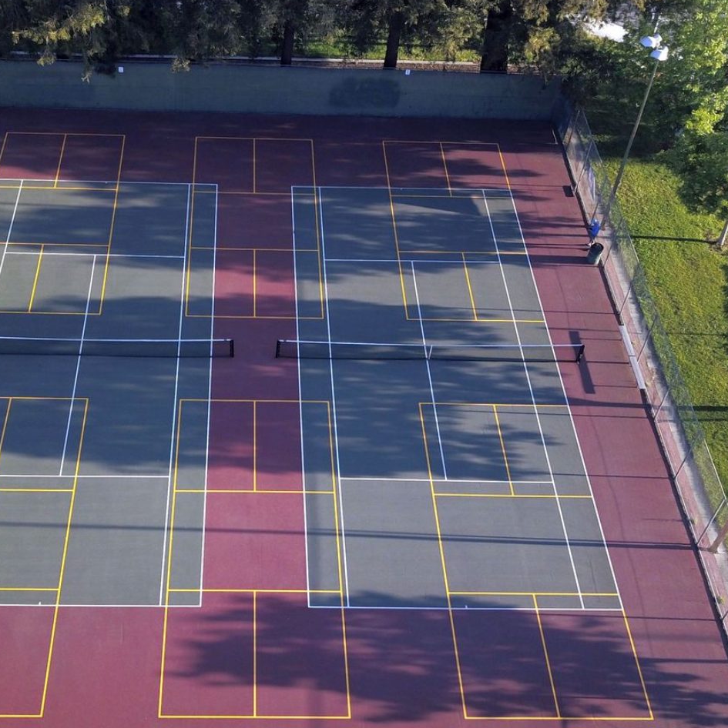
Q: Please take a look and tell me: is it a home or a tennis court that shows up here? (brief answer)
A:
tennis court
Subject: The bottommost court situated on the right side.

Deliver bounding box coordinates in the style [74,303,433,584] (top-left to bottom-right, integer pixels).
[420,404,652,720]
